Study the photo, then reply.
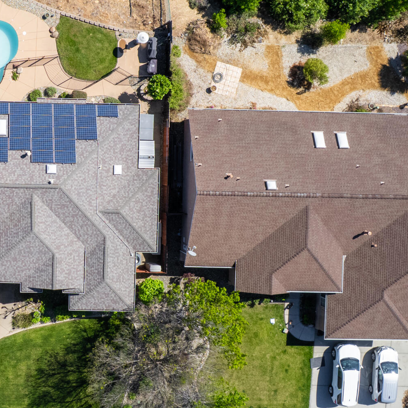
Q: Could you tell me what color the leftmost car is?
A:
white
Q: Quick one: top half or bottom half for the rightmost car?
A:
bottom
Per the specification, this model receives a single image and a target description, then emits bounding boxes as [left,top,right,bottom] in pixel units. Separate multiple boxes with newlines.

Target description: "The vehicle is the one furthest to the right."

[369,345,403,404]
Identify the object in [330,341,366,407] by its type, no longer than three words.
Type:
car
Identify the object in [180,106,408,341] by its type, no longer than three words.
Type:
house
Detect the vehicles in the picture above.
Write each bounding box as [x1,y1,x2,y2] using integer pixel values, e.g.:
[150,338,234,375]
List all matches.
[369,345,403,404]
[330,341,366,407]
